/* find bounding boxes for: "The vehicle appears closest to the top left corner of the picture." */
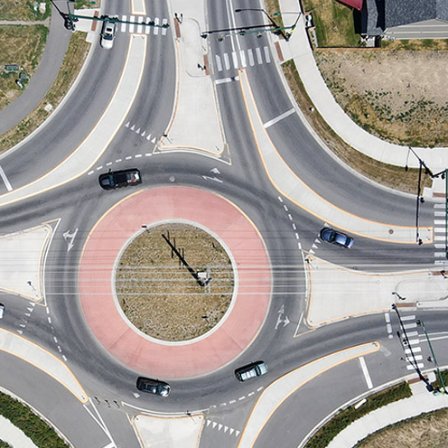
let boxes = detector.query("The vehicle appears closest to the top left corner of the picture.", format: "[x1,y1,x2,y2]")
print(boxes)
[97,17,115,51]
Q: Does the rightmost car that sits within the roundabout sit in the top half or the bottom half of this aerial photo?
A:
bottom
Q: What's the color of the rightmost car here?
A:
blue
